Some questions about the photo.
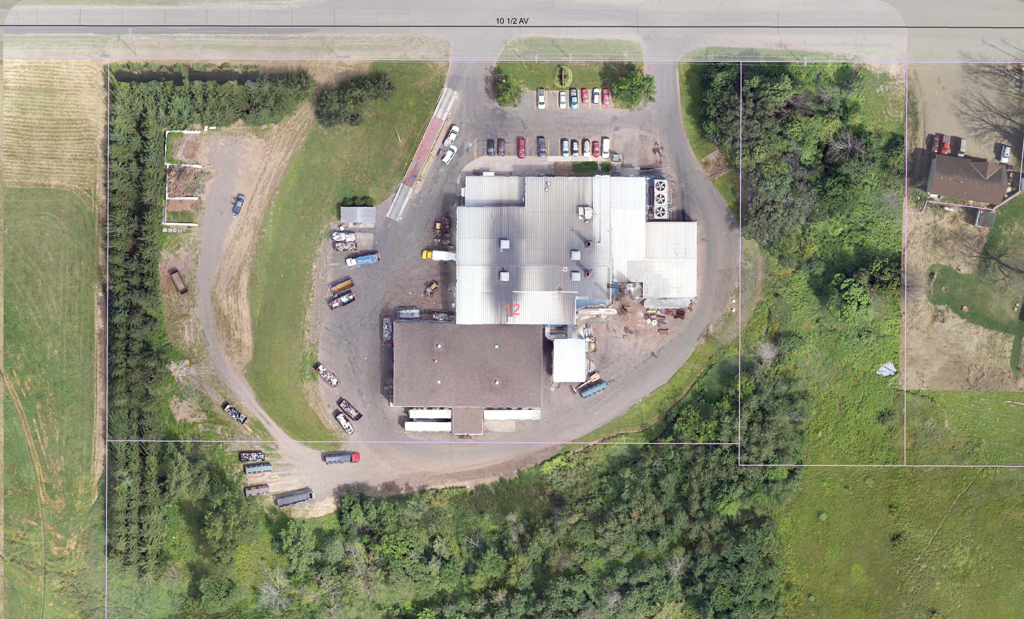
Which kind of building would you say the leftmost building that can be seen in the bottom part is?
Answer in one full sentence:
Specifically, the leftmost building that can be seen in the bottom part is a warehouse.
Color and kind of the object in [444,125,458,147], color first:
white vehicle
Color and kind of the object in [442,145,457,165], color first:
white vehicle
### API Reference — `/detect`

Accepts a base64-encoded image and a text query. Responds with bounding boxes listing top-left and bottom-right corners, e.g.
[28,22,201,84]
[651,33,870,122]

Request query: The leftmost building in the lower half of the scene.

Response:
[393,324,543,439]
